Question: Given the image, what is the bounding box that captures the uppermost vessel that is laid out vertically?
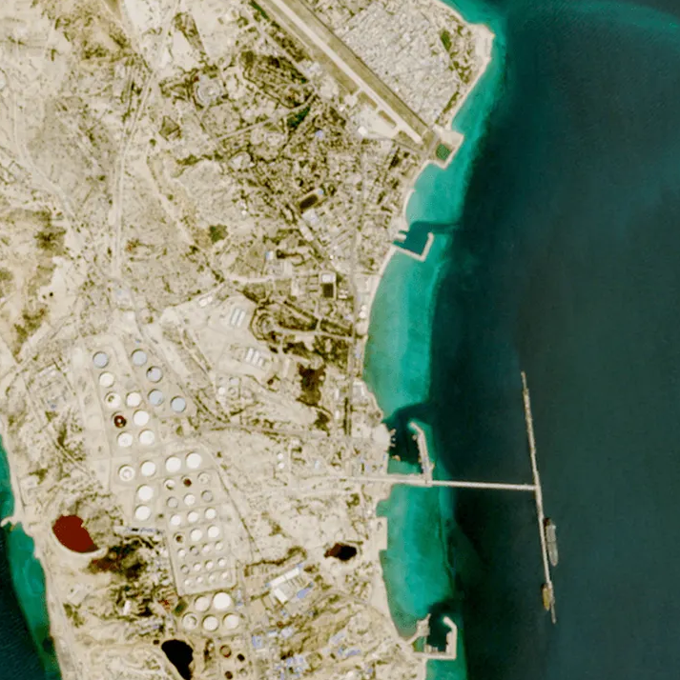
[546,520,558,566]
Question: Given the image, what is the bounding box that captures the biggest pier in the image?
[385,371,555,624]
